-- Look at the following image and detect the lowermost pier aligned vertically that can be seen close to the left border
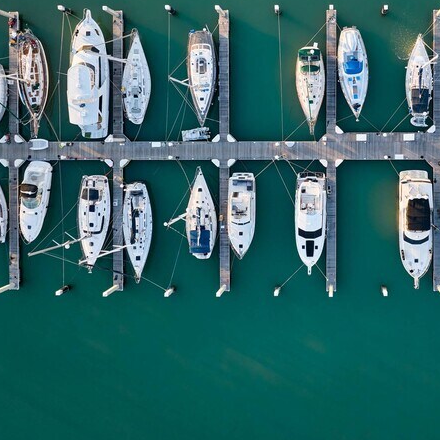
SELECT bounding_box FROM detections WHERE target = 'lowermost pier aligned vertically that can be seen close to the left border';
[8,160,21,291]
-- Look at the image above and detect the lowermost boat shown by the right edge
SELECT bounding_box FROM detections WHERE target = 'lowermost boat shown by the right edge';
[398,169,434,291]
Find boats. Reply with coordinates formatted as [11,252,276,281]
[0,65,8,125]
[31,174,114,270]
[86,29,153,123]
[226,172,257,260]
[59,8,116,138]
[410,115,429,126]
[398,169,434,291]
[336,25,371,121]
[182,126,210,140]
[0,181,10,244]
[296,42,326,134]
[293,170,328,277]
[166,166,219,258]
[19,161,56,243]
[28,138,50,149]
[172,25,218,127]
[405,34,440,115]
[84,182,153,282]
[0,28,53,137]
